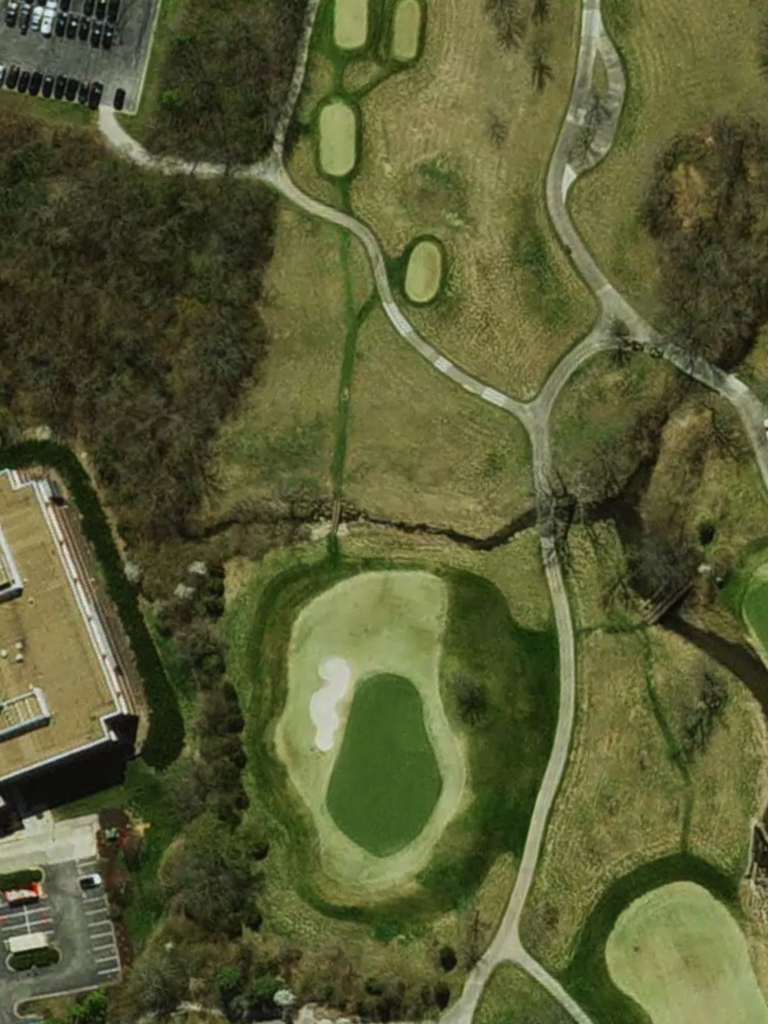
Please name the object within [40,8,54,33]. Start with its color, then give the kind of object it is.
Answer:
white vehicle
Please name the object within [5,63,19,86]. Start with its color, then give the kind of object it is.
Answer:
black car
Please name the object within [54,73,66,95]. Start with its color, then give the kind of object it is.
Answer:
black vehicle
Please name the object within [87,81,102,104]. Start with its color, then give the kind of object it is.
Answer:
black vehicle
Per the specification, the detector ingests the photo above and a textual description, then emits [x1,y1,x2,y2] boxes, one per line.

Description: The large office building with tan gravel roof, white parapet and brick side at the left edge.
[0,468,140,783]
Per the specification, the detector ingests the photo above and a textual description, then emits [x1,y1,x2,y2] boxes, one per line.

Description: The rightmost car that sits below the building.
[78,874,100,886]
